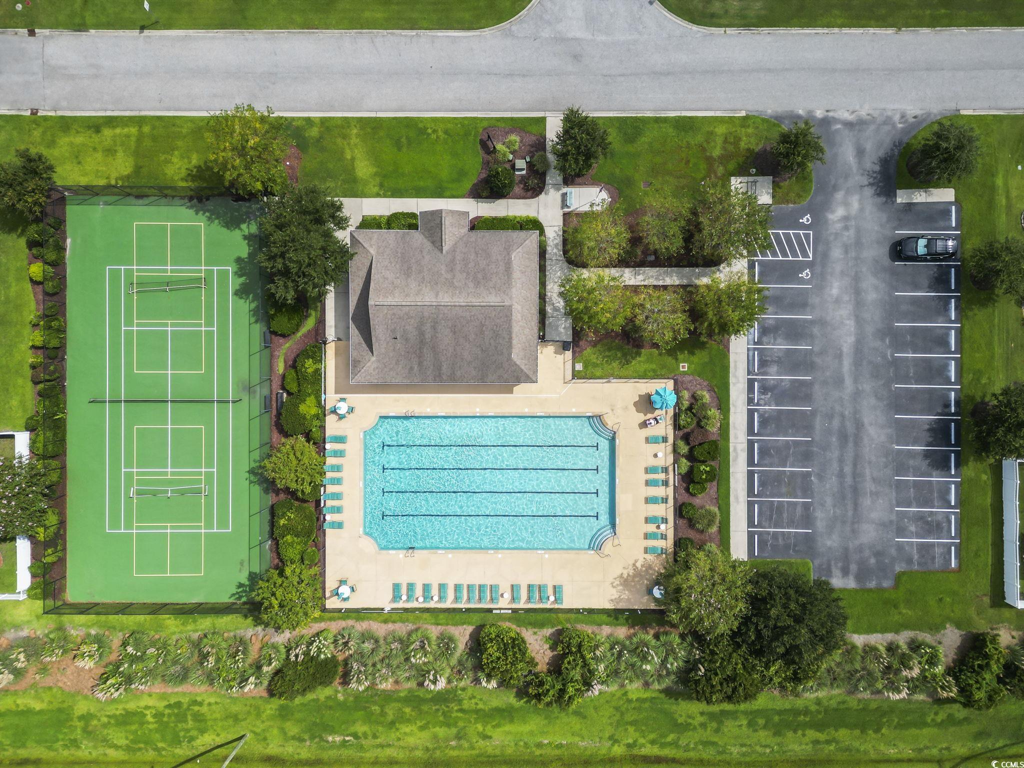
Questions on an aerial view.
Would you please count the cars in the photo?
1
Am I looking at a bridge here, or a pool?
pool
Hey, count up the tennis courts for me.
1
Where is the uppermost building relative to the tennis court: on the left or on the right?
on the right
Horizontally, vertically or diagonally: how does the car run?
horizontally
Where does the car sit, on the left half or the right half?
right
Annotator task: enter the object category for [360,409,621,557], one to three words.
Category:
swimming pool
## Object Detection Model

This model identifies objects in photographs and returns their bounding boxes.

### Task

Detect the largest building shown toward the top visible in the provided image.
[349,209,538,384]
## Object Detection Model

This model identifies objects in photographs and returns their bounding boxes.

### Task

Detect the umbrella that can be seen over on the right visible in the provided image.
[652,387,679,412]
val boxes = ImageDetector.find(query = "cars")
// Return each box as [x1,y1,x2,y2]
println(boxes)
[898,235,958,261]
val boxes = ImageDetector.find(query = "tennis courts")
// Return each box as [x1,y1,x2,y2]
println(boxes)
[66,195,271,603]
